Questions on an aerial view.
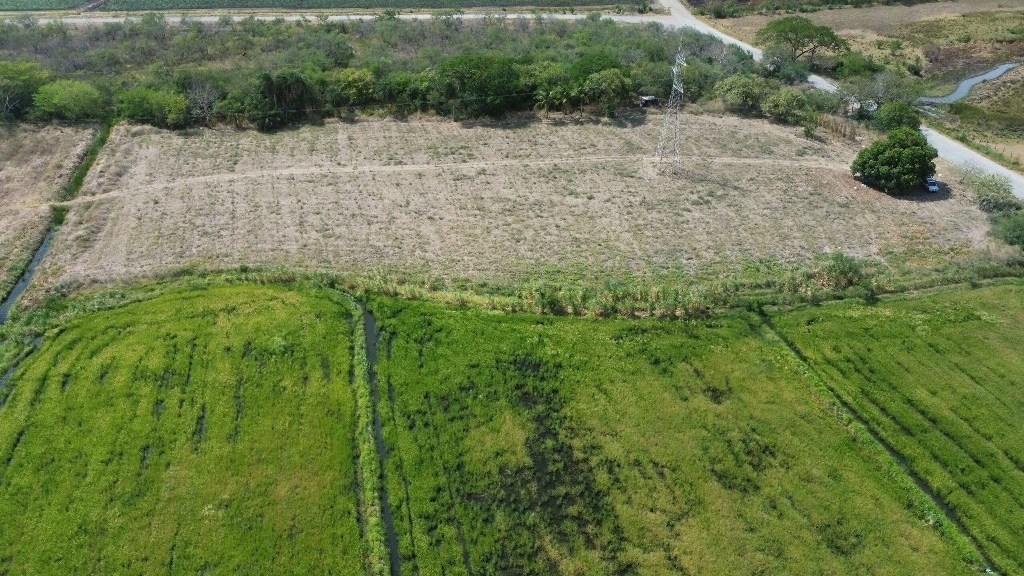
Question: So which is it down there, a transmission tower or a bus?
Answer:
transmission tower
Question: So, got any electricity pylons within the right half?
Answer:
Yes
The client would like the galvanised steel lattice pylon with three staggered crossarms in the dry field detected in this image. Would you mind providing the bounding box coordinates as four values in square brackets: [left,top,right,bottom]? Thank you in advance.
[654,39,685,174]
